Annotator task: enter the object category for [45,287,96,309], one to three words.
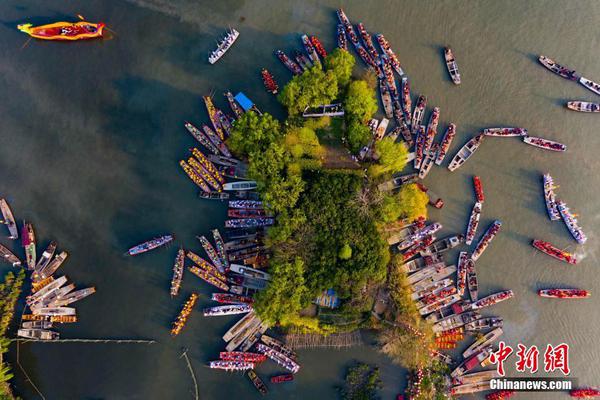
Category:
boat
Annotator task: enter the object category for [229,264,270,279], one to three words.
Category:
boat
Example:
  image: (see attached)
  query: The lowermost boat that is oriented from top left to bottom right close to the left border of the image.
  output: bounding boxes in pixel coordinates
[0,243,22,264]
